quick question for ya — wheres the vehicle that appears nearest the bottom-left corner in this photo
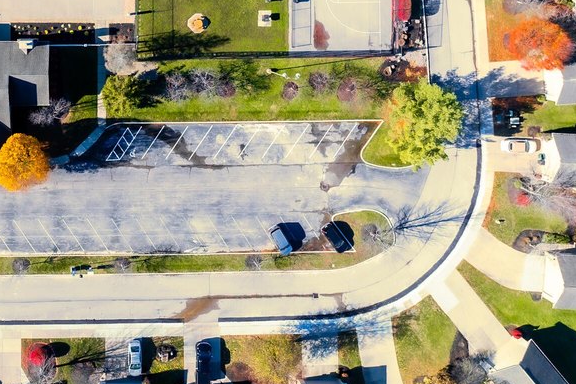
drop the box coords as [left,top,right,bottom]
[127,343,143,378]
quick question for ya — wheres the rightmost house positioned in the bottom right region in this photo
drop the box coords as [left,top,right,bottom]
[543,250,576,309]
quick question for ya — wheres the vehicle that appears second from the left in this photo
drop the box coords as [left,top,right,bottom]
[197,344,215,384]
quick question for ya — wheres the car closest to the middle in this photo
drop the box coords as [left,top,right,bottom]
[270,224,295,257]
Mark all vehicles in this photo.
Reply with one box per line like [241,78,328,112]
[500,138,539,156]
[321,223,351,256]
[127,343,143,378]
[270,224,295,257]
[197,344,215,384]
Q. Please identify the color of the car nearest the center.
blue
